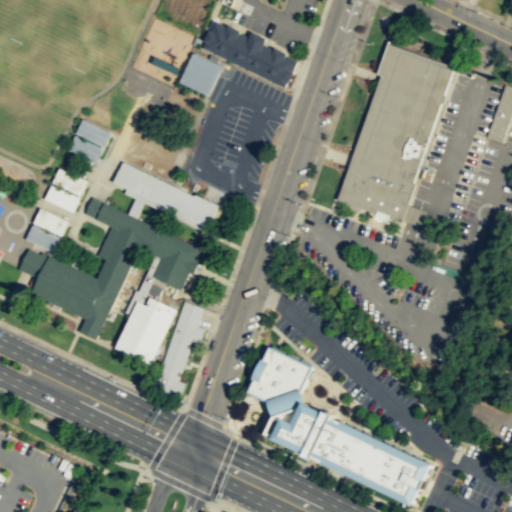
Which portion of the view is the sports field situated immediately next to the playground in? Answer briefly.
top left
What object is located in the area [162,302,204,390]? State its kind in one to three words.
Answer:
building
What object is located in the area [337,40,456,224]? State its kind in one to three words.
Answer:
building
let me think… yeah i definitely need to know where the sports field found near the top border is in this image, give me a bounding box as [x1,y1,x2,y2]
[0,0,154,165]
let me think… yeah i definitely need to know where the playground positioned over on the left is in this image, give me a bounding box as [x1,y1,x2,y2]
[133,19,194,88]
